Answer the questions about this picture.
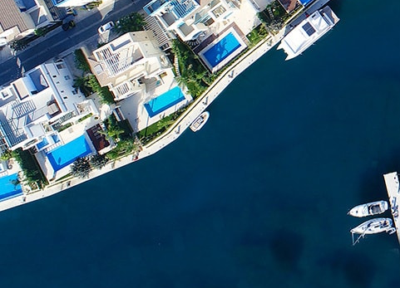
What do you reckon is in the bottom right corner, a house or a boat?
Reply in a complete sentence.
It is a boat that can be seen in the bottom right corner.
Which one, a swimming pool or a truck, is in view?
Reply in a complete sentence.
Of the two, only a swimming pool appears.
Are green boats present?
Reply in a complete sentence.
No, there appears to be no green boat in this shot.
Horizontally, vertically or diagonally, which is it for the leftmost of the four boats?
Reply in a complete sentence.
In this picture, the leftmost of the four boats is oriented diagonally.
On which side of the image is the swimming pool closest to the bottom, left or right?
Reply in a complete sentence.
It is on the left.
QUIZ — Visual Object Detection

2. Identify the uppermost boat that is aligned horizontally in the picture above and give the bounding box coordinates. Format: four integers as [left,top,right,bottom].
[346,199,390,217]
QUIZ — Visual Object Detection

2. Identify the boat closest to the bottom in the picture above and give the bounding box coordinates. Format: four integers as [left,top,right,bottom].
[348,217,394,242]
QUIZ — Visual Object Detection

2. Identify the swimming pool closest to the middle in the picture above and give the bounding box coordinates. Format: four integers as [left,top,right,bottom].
[139,83,191,124]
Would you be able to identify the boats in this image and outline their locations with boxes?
[276,5,343,62]
[348,217,394,242]
[191,112,214,133]
[346,199,390,217]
